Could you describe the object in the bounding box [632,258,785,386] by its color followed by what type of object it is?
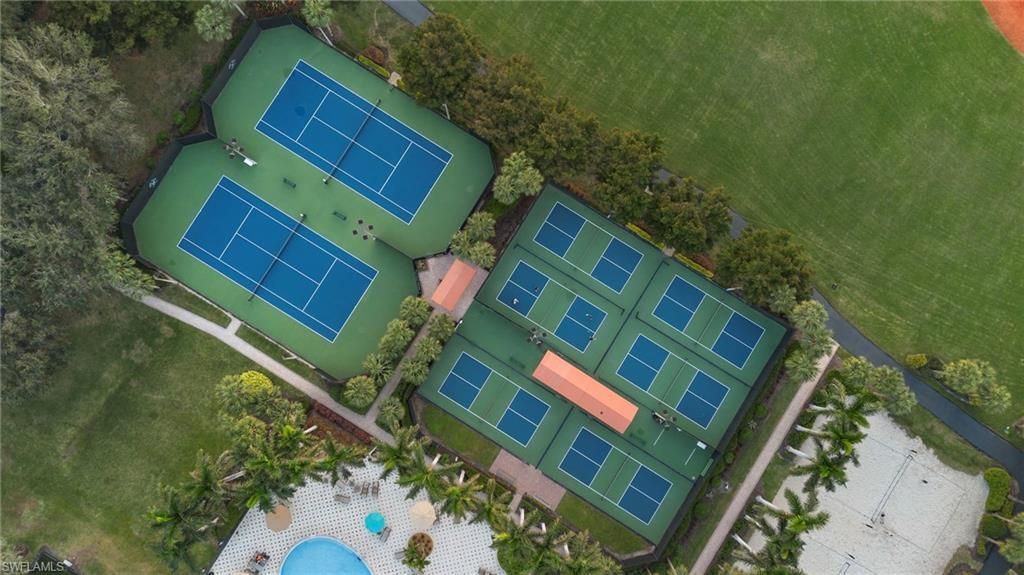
green sports court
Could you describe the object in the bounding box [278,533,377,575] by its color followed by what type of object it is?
blue swimming pool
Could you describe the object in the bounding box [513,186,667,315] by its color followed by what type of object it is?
green sports court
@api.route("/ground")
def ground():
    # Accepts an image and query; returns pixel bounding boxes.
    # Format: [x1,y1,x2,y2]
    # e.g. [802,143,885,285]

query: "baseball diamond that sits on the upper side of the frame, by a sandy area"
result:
[425,0,1024,449]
